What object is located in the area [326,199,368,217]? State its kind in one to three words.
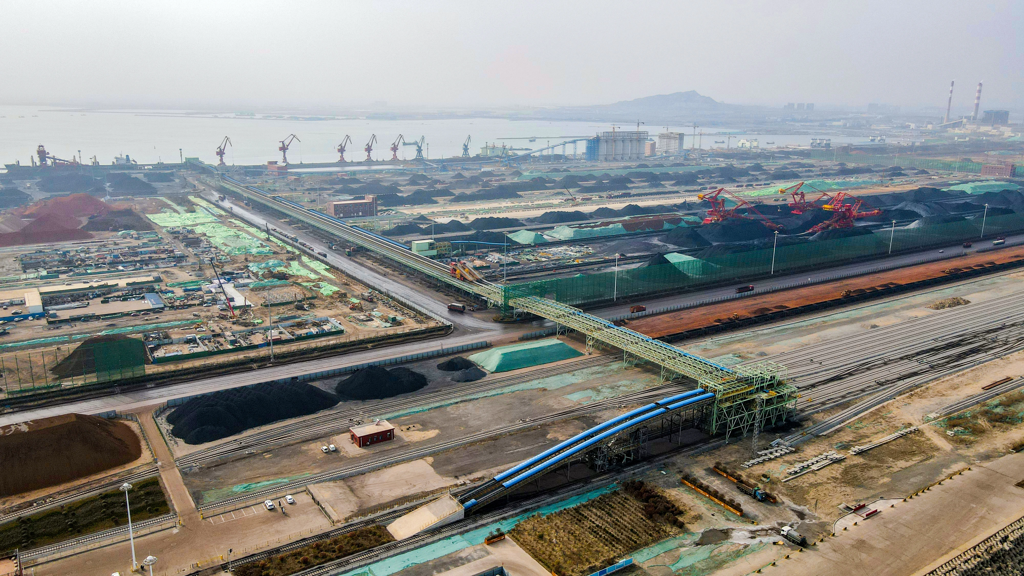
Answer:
building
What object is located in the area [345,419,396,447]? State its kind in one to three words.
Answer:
shed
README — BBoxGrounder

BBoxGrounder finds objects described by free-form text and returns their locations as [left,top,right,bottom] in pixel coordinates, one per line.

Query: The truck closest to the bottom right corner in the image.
[774,523,813,546]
